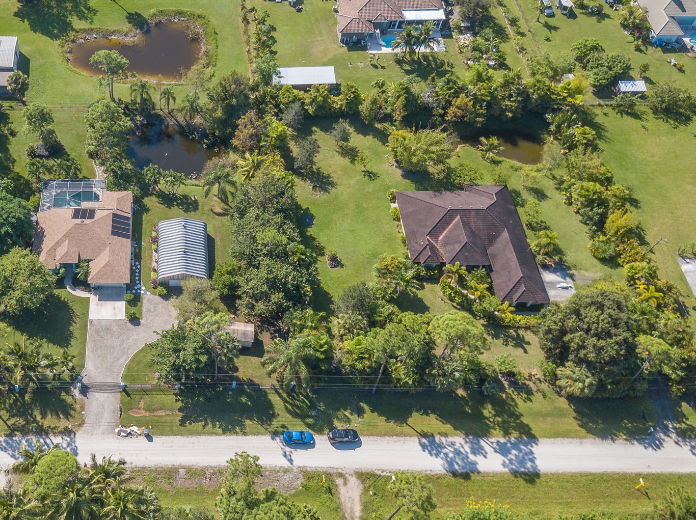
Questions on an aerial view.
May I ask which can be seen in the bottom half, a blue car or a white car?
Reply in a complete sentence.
The one visible in the bottom half is a blue car.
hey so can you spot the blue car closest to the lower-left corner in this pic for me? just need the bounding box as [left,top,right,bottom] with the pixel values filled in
[283,430,316,448]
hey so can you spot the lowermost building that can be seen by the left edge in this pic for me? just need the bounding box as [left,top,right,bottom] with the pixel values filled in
[33,176,132,292]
